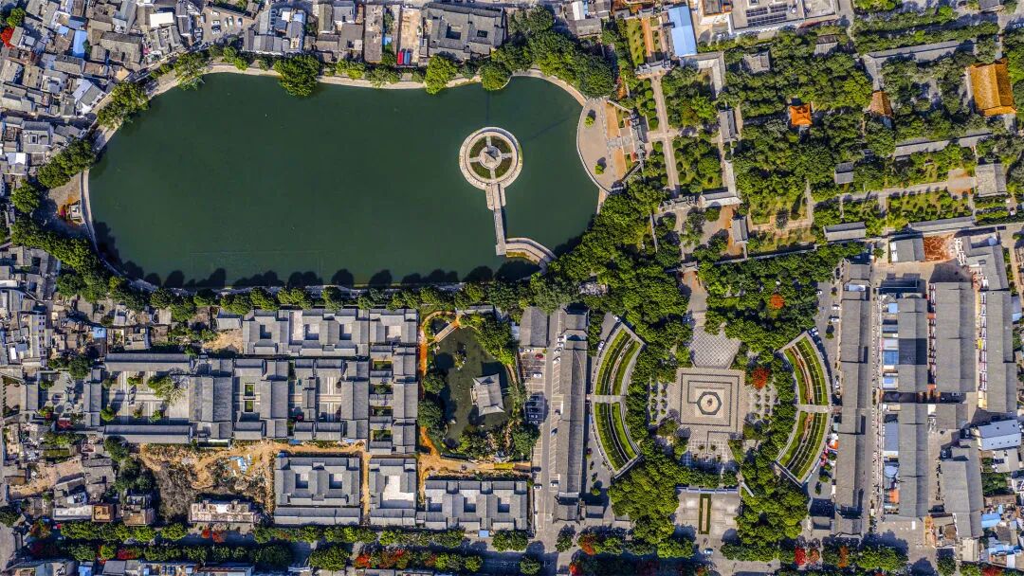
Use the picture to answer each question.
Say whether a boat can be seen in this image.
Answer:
No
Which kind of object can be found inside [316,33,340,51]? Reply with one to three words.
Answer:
house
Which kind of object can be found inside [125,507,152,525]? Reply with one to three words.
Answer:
house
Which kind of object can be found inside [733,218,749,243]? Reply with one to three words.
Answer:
building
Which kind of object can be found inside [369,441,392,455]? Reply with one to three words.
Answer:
building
